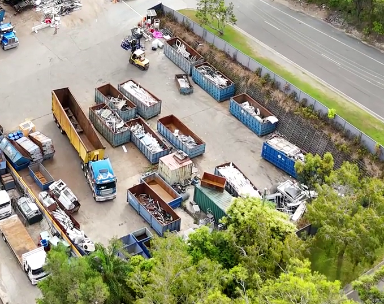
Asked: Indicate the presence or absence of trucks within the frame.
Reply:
Yes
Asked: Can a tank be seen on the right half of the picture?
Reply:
No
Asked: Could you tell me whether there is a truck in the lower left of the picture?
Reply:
Yes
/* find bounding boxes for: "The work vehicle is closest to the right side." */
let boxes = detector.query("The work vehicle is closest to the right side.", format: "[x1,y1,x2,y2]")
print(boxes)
[129,39,155,71]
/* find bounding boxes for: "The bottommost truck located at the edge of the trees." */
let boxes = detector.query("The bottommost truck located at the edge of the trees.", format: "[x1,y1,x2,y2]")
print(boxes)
[0,211,50,283]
